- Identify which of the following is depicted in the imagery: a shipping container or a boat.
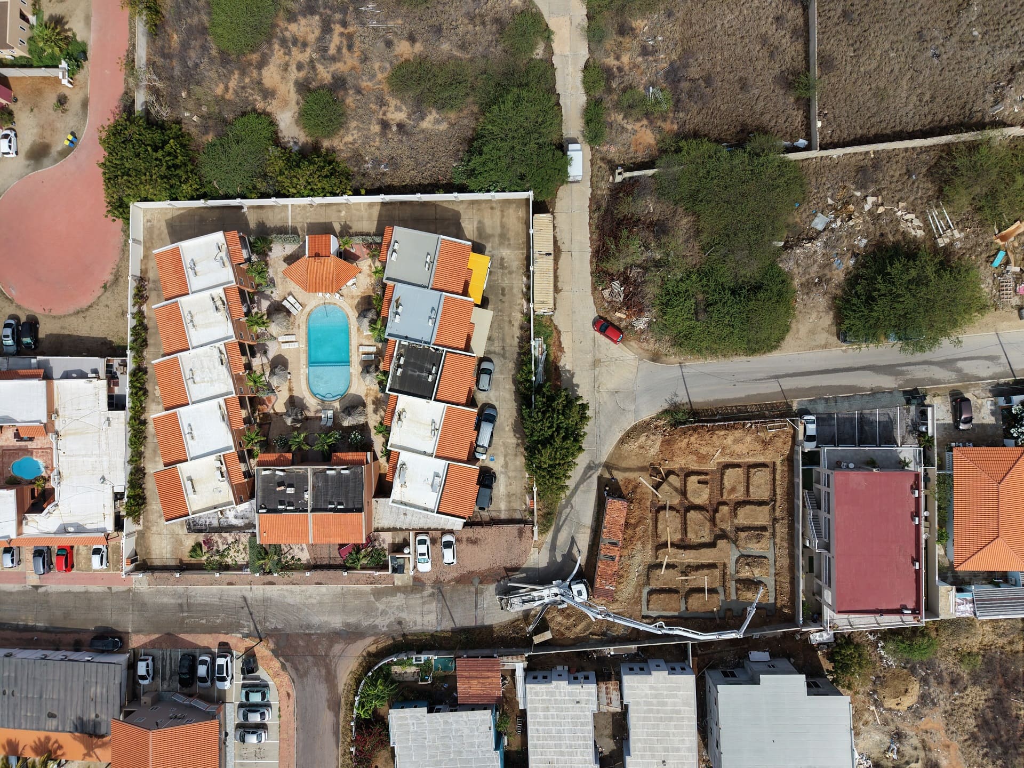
shipping container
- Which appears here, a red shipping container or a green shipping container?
red shipping container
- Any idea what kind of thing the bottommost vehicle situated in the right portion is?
truck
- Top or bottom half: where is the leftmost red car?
bottom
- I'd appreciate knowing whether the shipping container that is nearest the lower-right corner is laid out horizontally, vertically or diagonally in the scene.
vertically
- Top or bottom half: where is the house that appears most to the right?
bottom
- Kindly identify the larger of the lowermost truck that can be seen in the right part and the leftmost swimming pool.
the truck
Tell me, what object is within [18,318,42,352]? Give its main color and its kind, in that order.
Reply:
black car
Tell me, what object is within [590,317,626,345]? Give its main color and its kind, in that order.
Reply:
red car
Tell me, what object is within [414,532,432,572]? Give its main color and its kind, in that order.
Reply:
white car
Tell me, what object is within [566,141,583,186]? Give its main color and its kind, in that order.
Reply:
white vehicle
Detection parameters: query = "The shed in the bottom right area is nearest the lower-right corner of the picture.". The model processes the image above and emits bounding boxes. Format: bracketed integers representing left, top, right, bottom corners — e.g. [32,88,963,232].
[929,582,955,618]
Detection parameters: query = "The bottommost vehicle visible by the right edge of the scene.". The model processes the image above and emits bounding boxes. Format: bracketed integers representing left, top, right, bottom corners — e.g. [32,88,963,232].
[951,396,974,430]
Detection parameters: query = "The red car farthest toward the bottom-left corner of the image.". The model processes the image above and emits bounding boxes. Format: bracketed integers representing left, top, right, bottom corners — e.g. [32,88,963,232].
[54,546,77,576]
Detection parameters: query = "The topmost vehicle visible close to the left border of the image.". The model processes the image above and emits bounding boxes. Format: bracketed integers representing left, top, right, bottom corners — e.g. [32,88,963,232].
[0,128,21,160]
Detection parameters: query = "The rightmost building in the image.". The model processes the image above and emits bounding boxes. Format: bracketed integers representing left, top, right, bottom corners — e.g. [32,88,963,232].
[944,446,1024,573]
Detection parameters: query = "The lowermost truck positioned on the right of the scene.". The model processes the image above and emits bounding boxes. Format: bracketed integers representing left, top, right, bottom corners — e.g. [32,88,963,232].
[498,550,764,641]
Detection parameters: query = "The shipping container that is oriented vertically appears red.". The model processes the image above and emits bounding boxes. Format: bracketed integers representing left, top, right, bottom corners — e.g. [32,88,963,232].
[590,494,628,602]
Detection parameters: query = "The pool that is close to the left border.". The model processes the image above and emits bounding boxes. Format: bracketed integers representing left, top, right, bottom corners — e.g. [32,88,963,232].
[11,456,44,480]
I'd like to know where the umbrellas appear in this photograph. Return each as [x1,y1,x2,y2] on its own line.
[284,405,306,426]
[268,310,291,333]
[361,365,380,384]
[269,365,290,386]
[359,310,379,329]
[339,400,367,428]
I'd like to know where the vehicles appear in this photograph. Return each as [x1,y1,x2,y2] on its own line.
[176,652,196,687]
[0,318,23,356]
[214,650,234,689]
[566,141,583,186]
[414,532,432,572]
[799,413,819,448]
[498,550,764,641]
[951,396,974,430]
[0,540,22,573]
[476,404,498,455]
[0,128,21,160]
[590,317,626,345]
[239,703,275,723]
[440,532,457,567]
[235,725,271,746]
[54,546,77,576]
[195,651,215,687]
[18,318,42,352]
[240,684,273,703]
[238,653,257,681]
[87,633,126,653]
[30,546,55,580]
[135,653,155,685]
[477,357,496,393]
[477,467,495,510]
[89,539,111,574]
